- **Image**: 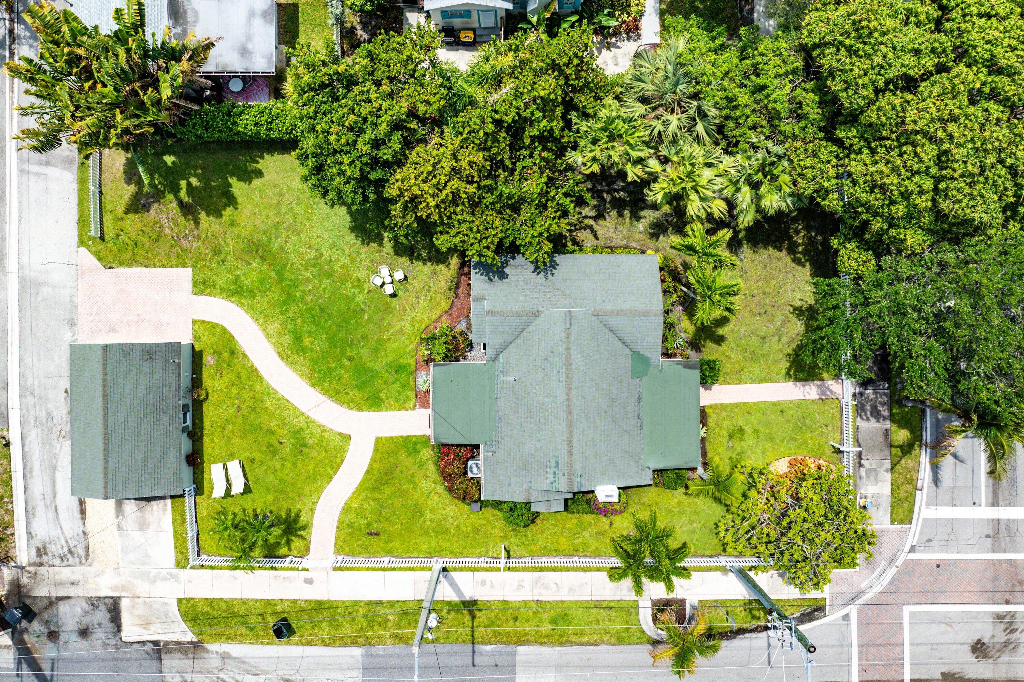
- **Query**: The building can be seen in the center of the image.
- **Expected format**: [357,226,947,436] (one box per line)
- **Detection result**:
[427,254,701,513]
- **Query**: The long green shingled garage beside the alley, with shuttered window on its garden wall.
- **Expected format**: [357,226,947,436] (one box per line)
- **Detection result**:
[70,342,191,502]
